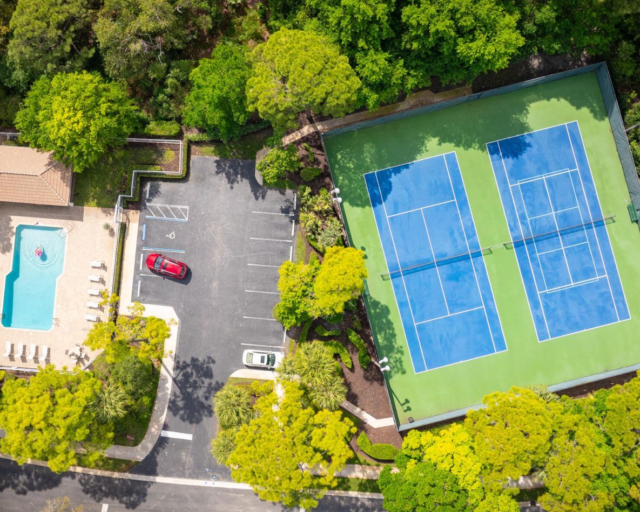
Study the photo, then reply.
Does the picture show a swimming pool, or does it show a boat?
swimming pool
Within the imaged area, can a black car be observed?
No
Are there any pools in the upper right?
No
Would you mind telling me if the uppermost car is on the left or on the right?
left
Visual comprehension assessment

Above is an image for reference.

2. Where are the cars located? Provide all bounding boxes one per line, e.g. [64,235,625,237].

[147,255,187,279]
[242,349,286,369]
